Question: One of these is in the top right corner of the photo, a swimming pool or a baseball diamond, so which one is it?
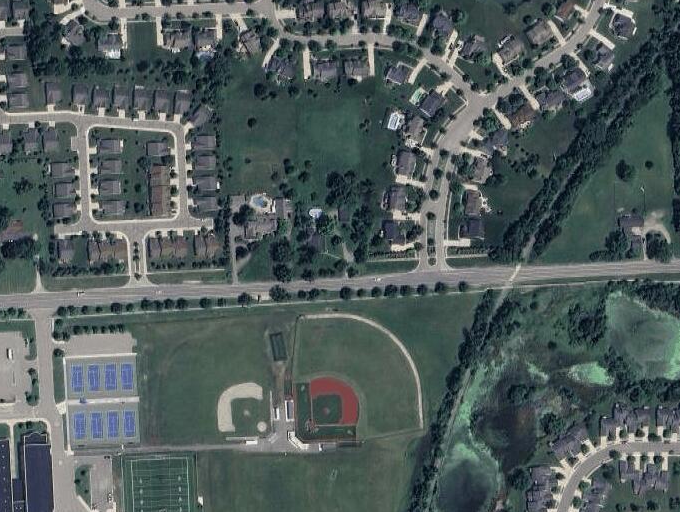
swimming pool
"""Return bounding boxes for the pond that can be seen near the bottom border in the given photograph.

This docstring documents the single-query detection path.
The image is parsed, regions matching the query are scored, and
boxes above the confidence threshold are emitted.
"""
[442,452,494,512]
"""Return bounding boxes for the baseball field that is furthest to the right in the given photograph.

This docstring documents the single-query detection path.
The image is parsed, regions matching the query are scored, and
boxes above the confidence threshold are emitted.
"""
[296,314,424,441]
